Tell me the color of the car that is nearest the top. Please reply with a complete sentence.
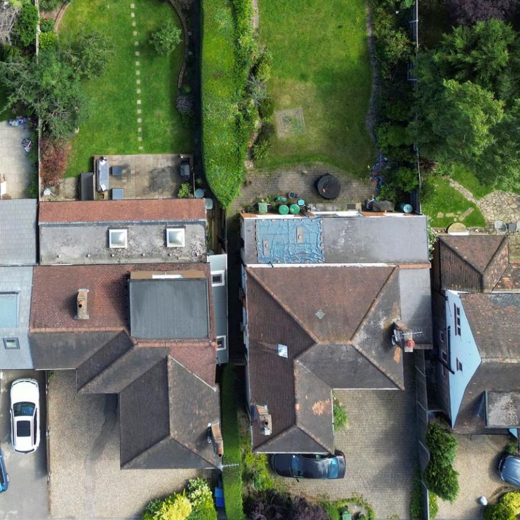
The color of the car that is nearest the top is white.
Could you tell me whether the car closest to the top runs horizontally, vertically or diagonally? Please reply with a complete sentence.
Seen from above, the car closest to the top lies vertically.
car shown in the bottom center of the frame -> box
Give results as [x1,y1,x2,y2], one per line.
[273,451,349,489]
